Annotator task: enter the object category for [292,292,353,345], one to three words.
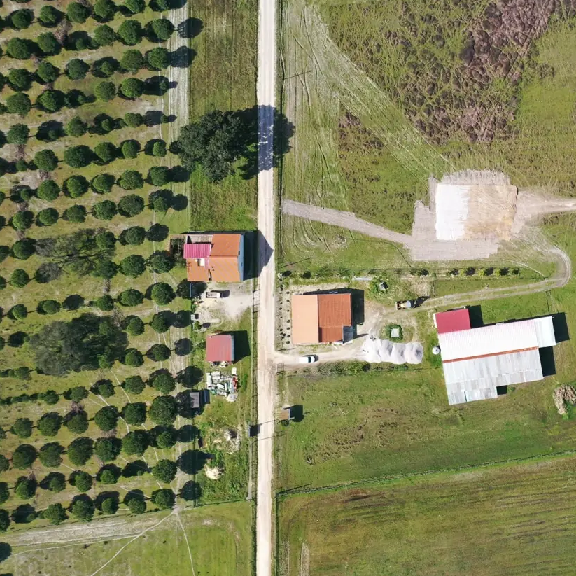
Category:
house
